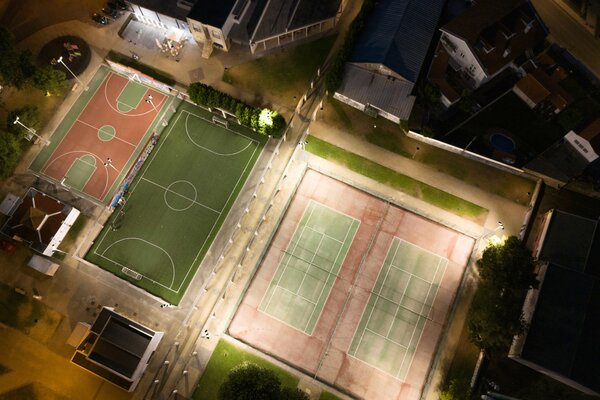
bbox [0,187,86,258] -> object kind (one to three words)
building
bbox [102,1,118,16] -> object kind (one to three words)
car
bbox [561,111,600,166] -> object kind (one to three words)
house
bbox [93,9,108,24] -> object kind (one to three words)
car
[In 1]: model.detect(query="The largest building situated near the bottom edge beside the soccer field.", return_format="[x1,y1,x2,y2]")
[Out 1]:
[70,306,163,390]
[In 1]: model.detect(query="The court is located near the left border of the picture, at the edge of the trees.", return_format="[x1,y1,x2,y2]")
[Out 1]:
[29,66,175,206]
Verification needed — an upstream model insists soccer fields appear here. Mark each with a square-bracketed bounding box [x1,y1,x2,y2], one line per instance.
[86,101,270,305]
